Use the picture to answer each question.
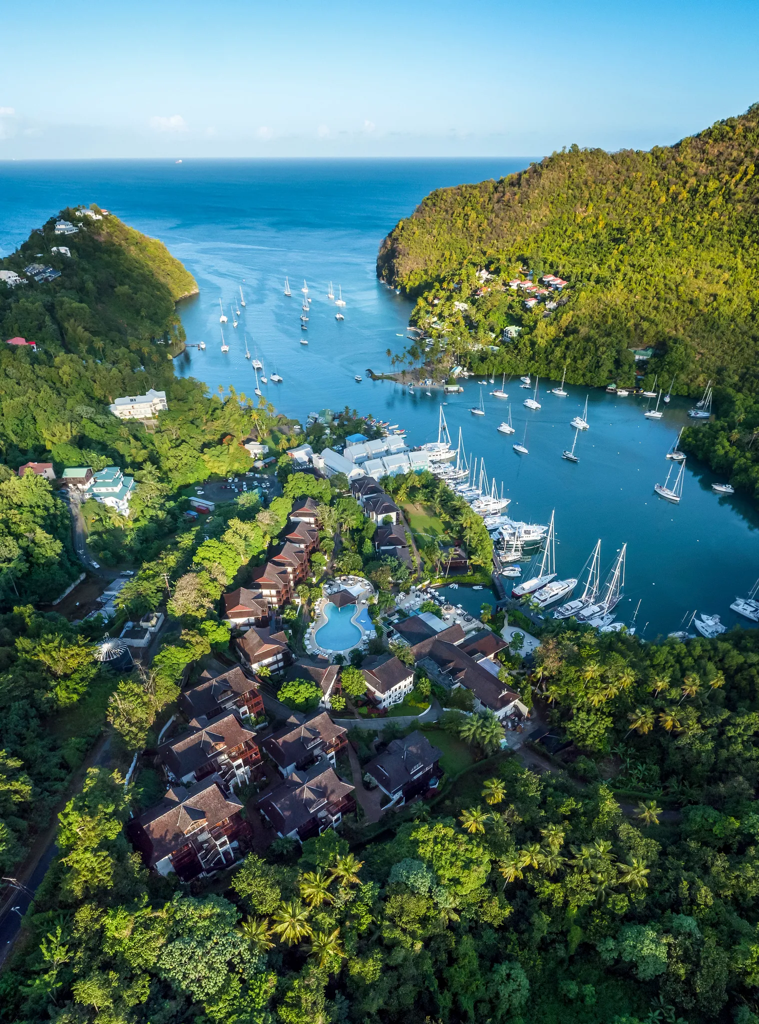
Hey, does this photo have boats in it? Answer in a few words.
Yes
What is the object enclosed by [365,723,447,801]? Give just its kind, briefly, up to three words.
house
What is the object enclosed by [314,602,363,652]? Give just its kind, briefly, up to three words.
swimming pool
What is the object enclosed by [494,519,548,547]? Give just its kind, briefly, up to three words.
boat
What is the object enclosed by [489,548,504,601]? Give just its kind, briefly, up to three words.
pier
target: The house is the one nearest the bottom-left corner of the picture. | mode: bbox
[128,769,259,877]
